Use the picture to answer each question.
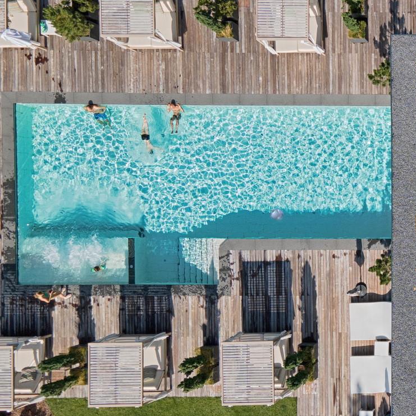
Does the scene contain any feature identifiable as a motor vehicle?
No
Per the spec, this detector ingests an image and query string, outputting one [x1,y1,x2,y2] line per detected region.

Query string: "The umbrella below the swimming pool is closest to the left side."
[349,284,367,298]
